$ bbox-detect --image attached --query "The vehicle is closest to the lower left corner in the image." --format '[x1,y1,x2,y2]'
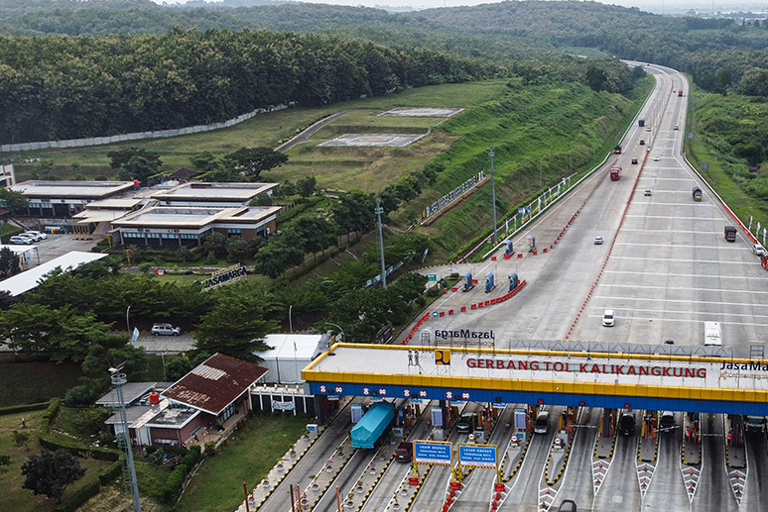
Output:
[149,323,180,337]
